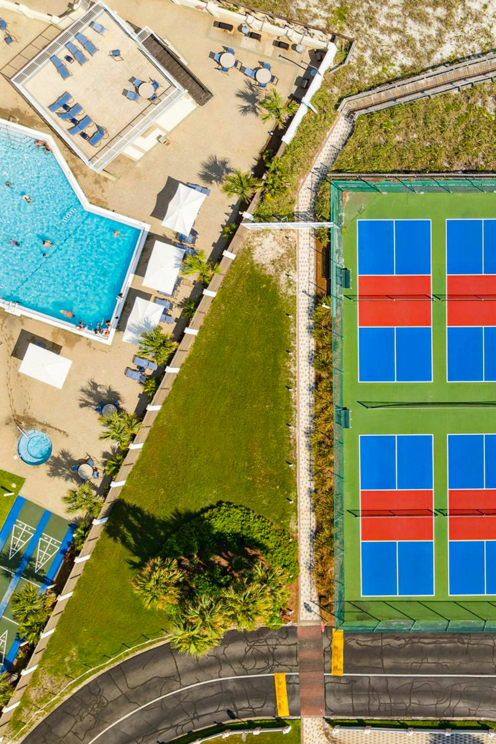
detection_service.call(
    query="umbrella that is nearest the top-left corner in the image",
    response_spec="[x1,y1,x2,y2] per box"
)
[162,183,206,237]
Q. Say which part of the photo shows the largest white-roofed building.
top left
